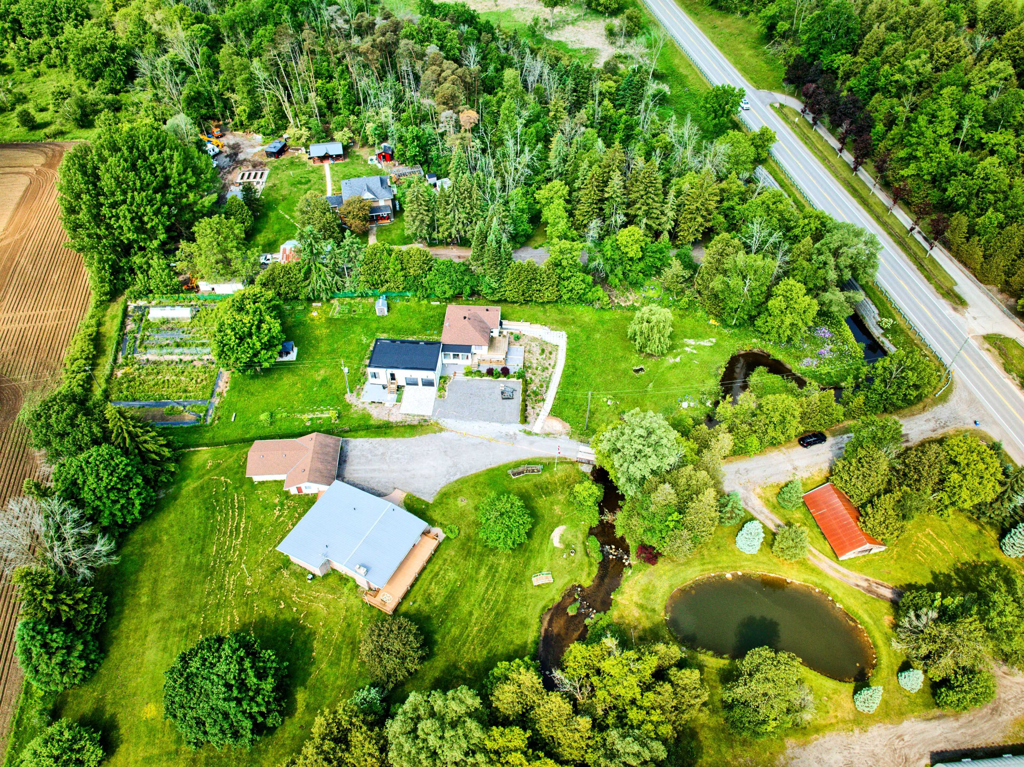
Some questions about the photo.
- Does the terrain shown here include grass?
Yes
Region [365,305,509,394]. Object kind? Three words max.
house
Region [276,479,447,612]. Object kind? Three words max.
house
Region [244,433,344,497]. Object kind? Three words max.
building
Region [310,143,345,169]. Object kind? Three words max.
building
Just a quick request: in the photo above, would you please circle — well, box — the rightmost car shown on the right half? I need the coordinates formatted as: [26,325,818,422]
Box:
[798,432,831,449]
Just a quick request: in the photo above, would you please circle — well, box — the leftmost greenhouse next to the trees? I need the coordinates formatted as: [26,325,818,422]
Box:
[145,306,195,324]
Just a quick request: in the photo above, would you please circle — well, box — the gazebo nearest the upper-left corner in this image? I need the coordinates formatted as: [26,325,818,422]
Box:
[264,140,287,161]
